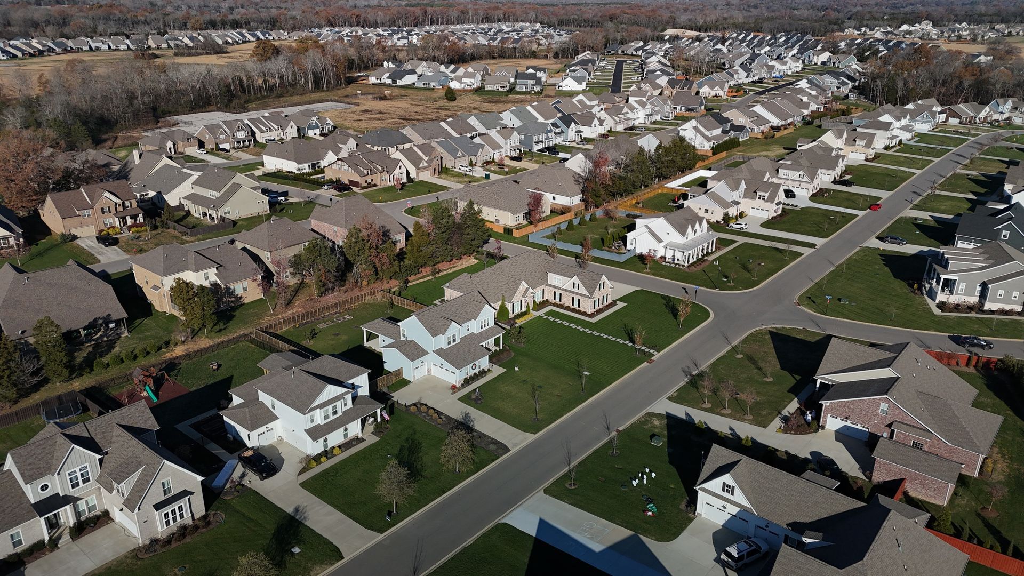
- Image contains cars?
Yes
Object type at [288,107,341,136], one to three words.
house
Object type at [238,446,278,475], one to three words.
truck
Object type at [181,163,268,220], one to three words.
house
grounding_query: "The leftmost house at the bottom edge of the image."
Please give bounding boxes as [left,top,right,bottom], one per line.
[0,393,207,556]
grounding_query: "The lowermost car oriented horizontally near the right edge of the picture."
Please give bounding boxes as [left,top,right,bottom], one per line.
[962,337,993,350]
